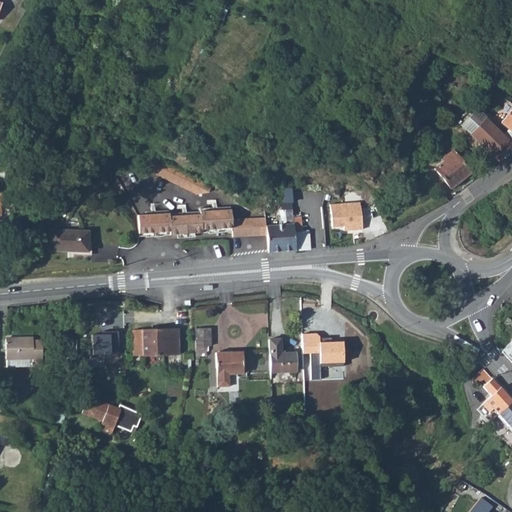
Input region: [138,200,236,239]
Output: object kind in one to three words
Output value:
building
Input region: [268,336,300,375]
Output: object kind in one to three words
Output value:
house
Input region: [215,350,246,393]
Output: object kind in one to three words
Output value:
house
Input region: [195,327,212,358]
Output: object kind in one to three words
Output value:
shed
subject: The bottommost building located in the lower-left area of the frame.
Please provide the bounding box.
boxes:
[82,404,141,434]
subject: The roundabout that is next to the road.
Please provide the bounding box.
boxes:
[372,243,512,341]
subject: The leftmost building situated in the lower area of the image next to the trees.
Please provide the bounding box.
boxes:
[5,336,43,369]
